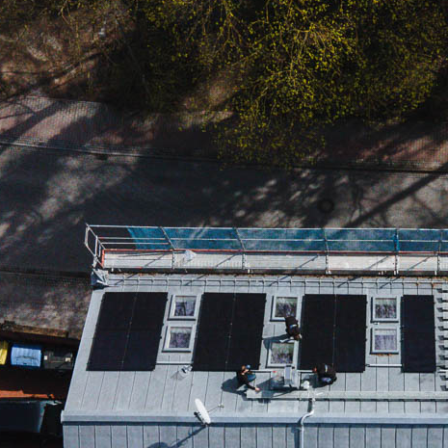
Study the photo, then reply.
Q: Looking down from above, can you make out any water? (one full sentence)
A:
No, there's no water in this view.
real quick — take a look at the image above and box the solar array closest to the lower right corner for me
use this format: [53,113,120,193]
[401,295,436,372]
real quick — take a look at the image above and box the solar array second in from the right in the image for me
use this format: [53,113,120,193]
[298,295,368,372]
